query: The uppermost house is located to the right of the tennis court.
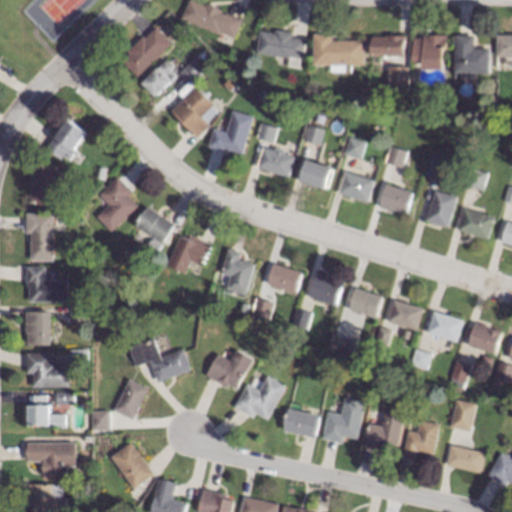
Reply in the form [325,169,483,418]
[182,0,243,38]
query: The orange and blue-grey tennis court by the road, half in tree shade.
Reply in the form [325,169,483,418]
[23,0,98,43]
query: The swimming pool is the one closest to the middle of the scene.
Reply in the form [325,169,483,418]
[330,121,346,136]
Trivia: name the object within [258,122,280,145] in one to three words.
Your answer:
building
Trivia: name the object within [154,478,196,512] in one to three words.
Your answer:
house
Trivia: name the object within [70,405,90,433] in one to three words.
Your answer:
swimming pool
